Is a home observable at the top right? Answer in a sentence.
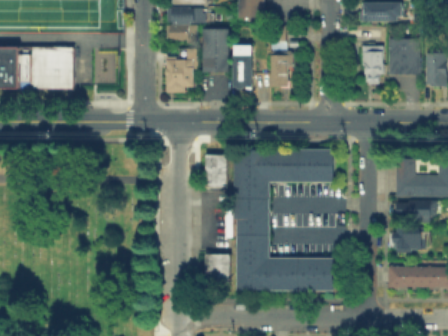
Yes, a home appears at the top right.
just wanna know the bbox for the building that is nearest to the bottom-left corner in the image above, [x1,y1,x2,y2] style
[204,254,230,285]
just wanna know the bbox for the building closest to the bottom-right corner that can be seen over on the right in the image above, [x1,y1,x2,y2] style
[389,266,448,289]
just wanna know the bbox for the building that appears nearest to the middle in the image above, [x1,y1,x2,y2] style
[205,154,227,190]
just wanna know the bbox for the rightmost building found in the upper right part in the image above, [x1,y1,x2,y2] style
[426,52,448,86]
